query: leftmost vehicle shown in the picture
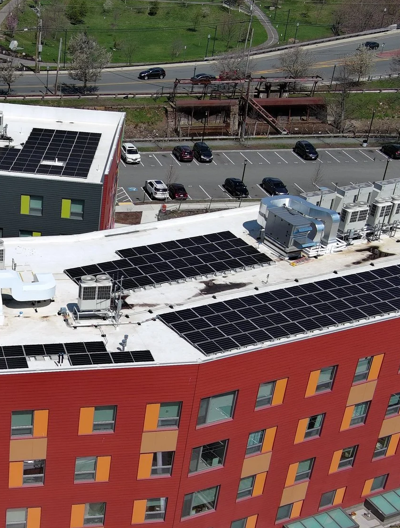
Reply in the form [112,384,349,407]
[123,141,141,160]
